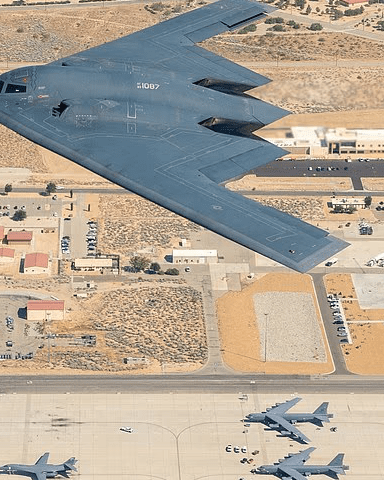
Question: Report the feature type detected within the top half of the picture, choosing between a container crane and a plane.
plane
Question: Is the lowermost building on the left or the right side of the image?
left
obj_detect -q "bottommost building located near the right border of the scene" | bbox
[328,194,367,209]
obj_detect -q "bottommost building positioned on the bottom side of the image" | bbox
[27,299,64,320]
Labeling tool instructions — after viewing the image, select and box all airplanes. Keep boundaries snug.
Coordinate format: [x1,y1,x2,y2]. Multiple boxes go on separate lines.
[253,445,347,480]
[0,0,349,271]
[246,395,336,443]
[0,450,79,480]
